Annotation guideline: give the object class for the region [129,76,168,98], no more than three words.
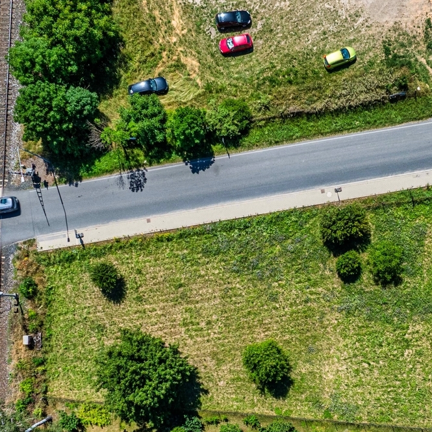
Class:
car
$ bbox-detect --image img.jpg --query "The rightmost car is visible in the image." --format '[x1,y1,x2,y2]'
[322,48,357,72]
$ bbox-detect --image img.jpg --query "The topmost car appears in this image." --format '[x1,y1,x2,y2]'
[216,11,251,31]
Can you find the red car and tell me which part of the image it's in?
top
